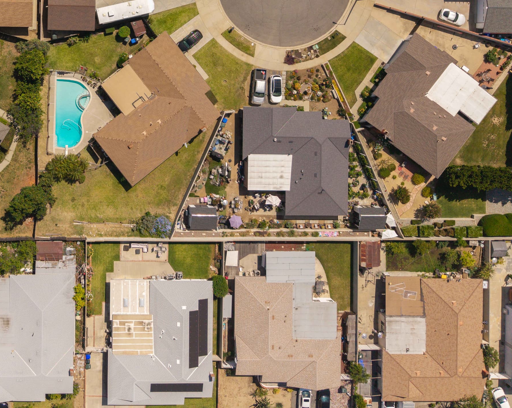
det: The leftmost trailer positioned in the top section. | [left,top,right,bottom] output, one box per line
[96,0,155,25]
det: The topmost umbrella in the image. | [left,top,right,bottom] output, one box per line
[265,191,282,207]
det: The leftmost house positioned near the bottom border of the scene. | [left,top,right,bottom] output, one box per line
[0,259,75,405]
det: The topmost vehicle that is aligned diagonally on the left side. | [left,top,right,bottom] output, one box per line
[176,27,204,54]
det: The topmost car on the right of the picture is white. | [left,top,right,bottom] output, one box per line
[437,8,466,27]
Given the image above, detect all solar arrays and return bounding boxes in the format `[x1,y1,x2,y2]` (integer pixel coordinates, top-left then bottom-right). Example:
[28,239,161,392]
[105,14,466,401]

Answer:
[199,298,208,356]
[150,383,203,392]
[189,310,199,368]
